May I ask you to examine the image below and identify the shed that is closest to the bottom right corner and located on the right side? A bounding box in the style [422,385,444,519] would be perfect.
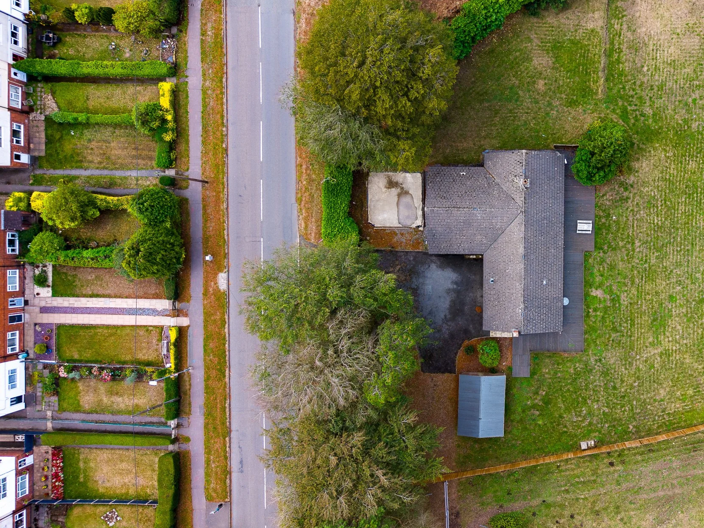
[458,372,506,439]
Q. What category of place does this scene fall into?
residential area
